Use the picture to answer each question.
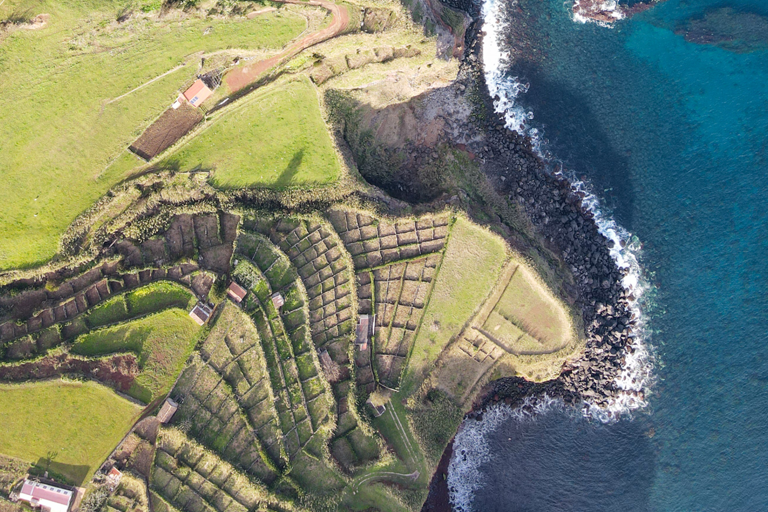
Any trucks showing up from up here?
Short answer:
No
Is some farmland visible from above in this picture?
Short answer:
Yes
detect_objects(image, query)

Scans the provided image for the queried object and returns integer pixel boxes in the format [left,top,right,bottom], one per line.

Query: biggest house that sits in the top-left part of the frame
[184,79,212,107]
